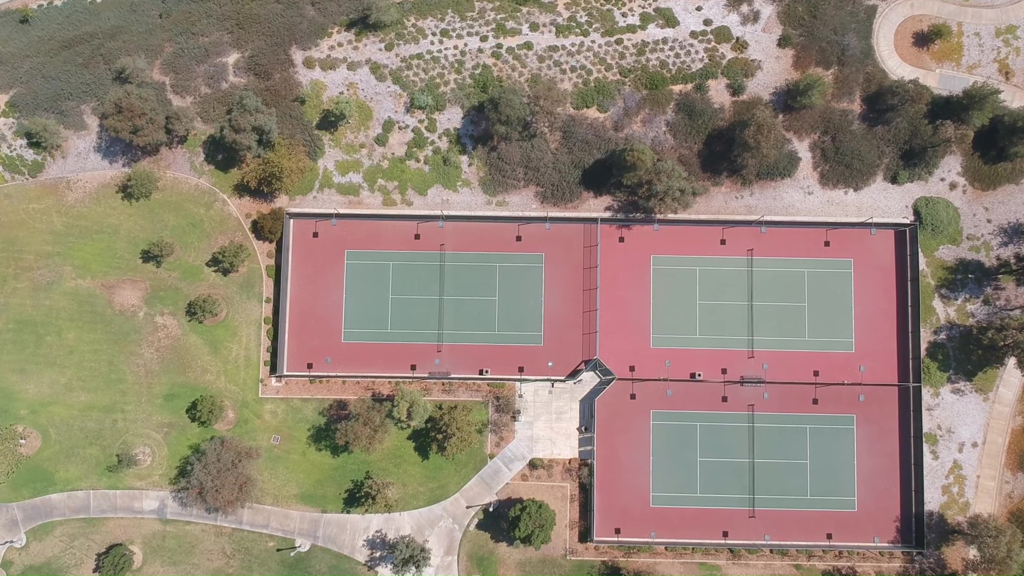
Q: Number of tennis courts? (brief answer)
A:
3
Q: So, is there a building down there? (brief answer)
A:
No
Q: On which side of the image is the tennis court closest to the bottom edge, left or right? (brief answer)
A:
right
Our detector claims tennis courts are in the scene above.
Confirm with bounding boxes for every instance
[591,377,914,545]
[284,217,596,378]
[597,221,911,382]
